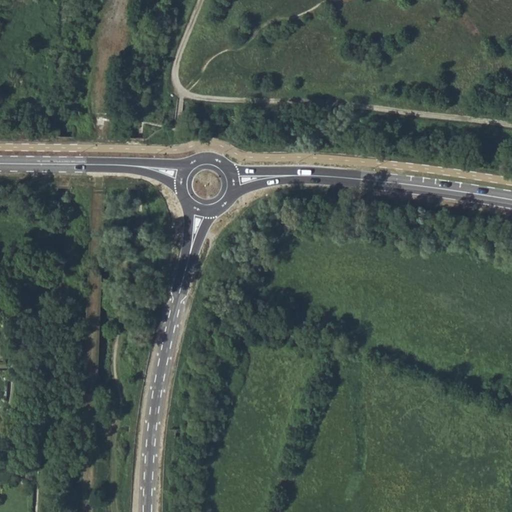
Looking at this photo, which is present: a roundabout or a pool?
roundabout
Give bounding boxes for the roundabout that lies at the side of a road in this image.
[86,152,362,292]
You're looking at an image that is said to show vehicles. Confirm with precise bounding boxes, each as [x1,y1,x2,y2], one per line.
[440,182,450,187]
[245,168,254,174]
[75,165,85,170]
[477,189,488,194]
[298,169,312,174]
[311,178,321,183]
[268,179,278,184]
